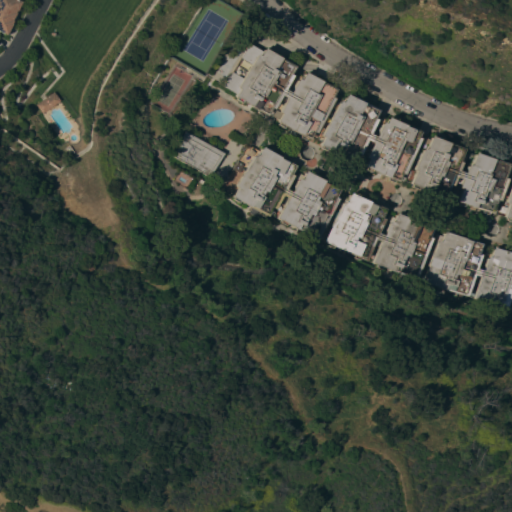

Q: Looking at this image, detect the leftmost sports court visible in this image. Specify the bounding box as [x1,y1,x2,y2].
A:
[156,67,192,112]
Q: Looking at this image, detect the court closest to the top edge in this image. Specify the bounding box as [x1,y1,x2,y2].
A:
[174,0,242,75]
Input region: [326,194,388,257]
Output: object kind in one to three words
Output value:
house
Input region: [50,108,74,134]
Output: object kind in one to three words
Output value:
swimming pool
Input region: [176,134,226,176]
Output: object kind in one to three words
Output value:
building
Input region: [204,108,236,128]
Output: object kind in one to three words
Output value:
swimming pool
